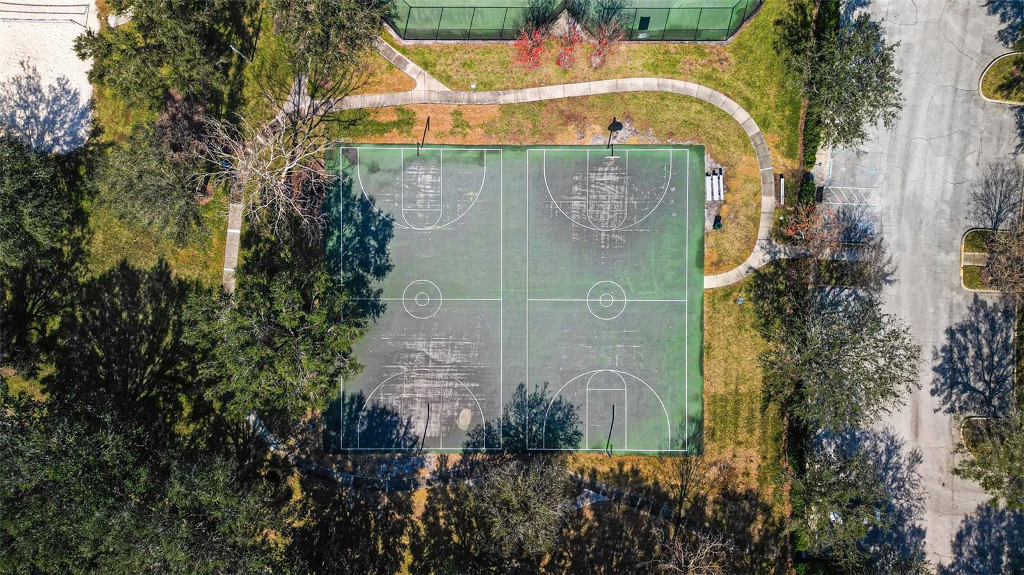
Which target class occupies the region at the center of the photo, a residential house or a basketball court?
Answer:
basketball court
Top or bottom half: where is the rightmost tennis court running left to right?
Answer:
top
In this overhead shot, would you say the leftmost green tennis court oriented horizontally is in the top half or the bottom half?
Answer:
top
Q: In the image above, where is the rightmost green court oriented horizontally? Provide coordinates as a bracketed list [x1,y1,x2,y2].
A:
[566,0,766,40]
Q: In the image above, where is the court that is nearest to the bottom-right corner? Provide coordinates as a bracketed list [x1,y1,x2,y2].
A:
[514,144,704,456]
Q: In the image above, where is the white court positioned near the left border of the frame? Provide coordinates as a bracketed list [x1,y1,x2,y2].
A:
[0,0,99,154]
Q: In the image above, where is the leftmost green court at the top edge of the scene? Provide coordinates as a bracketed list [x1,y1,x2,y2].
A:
[360,0,566,40]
